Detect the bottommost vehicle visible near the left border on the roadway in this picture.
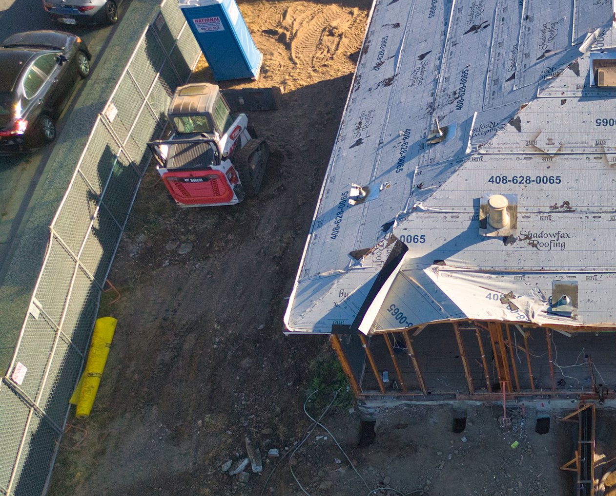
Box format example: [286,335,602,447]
[0,30,91,149]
